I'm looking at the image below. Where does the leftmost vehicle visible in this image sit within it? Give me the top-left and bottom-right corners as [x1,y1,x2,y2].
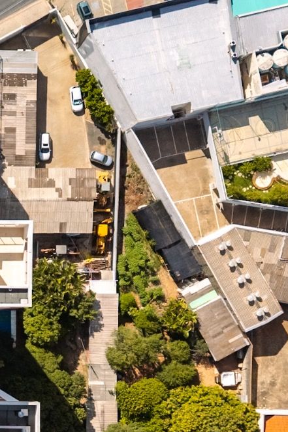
[38,133,52,161]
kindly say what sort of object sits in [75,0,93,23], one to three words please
car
